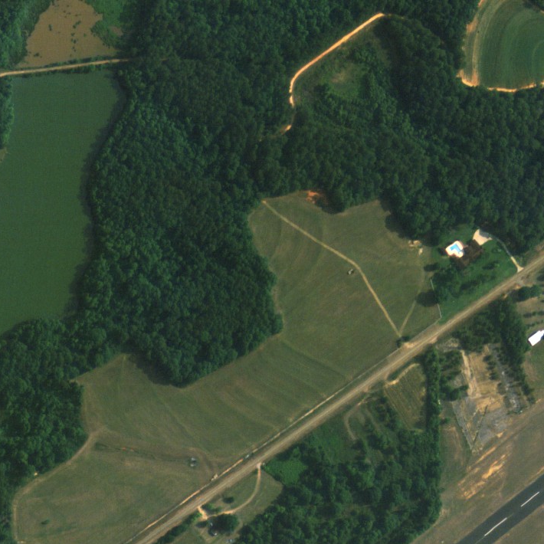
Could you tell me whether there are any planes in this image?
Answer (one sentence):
No, no plane is visible in the view.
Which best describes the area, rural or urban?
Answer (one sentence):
It looks rural.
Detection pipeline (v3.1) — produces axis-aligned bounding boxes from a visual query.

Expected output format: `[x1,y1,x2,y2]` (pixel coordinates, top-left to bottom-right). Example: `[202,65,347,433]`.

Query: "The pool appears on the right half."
[445,241,463,256]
